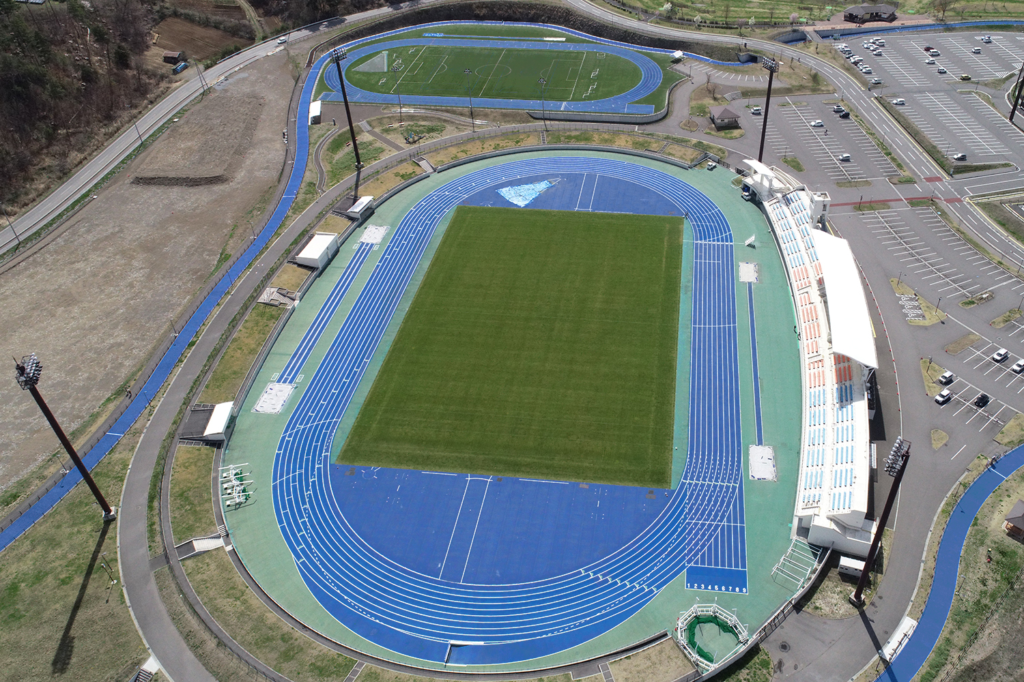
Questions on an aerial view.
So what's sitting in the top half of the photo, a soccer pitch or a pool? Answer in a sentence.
What appears in the top half of the photo is a soccer pitch.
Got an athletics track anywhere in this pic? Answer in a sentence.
Yes, an athletics track can be made out from above.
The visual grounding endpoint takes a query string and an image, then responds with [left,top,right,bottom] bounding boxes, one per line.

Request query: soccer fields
[347,45,643,101]
[335,206,684,489]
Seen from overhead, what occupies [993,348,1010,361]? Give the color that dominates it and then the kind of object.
white vehicle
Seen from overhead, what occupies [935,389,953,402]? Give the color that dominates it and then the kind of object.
white vehicle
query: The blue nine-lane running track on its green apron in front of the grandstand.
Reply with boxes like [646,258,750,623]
[224,148,827,676]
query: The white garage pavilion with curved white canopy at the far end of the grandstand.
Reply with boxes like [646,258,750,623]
[741,160,805,212]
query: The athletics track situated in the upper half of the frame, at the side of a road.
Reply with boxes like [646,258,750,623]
[310,25,686,115]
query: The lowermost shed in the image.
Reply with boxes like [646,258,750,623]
[837,556,866,579]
